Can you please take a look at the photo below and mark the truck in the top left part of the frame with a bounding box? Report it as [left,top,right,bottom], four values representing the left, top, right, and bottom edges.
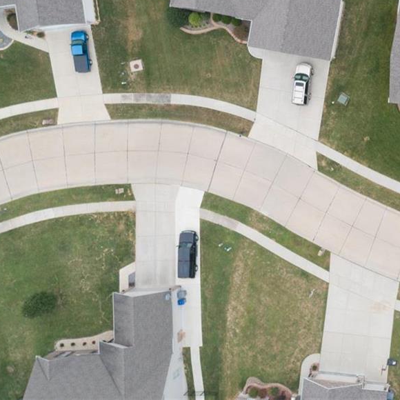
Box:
[70,30,95,73]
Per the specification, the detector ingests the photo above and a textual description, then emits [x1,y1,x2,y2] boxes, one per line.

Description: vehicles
[70,30,95,73]
[291,64,314,107]
[177,231,199,278]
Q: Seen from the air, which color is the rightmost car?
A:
white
